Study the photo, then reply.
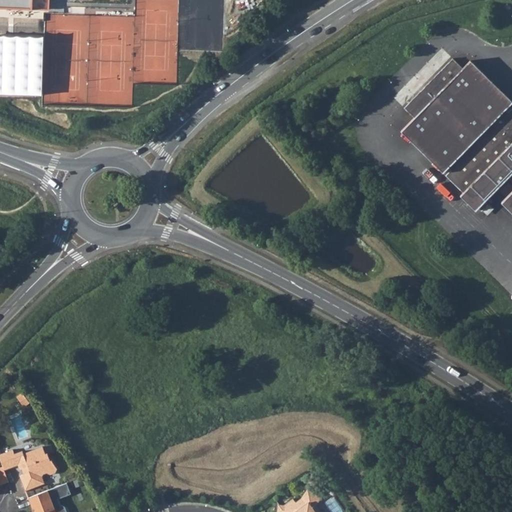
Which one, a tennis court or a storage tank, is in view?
tennis court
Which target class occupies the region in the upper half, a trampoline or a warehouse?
warehouse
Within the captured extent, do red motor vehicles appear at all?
Yes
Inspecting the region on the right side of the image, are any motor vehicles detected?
Yes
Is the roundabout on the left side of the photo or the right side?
left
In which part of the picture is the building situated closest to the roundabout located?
top left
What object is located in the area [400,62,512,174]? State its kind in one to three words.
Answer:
warehouse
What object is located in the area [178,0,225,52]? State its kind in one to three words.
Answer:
sports court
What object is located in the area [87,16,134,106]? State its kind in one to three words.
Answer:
tennis court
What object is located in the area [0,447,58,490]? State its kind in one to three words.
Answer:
house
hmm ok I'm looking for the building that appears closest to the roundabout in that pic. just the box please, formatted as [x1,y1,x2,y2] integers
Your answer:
[0,36,44,97]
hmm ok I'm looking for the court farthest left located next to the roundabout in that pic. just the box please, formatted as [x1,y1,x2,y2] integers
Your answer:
[43,14,89,104]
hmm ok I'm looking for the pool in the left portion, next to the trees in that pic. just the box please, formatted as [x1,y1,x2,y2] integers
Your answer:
[12,414,30,446]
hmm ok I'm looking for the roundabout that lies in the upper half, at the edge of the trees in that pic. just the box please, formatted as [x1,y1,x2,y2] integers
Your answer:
[61,146,161,247]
